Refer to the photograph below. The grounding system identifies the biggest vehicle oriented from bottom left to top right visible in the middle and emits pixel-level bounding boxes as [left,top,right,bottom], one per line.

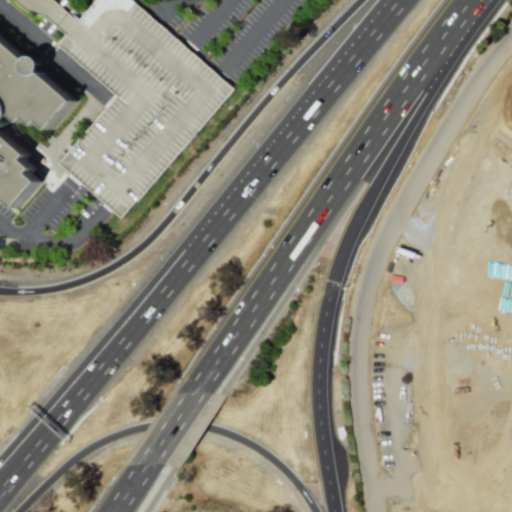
[289,217,321,258]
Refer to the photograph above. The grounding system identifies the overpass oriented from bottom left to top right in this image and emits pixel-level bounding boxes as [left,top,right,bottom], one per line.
[123,394,230,468]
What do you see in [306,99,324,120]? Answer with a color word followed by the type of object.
white vehicle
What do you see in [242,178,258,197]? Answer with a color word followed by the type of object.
white vehicle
